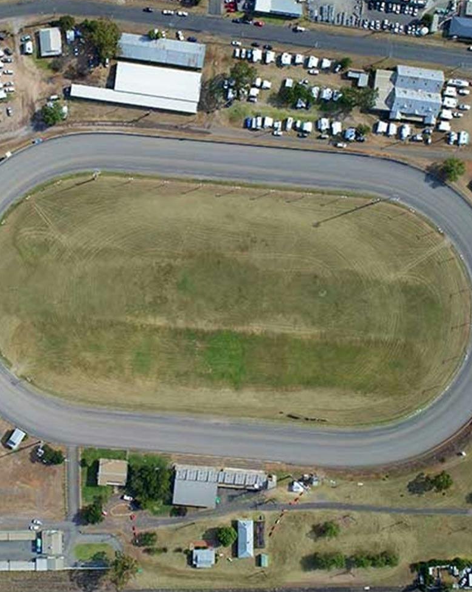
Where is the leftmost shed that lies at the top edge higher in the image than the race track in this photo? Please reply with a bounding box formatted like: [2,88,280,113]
[40,27,63,56]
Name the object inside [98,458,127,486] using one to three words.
house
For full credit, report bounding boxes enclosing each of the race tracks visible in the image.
[0,132,472,468]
